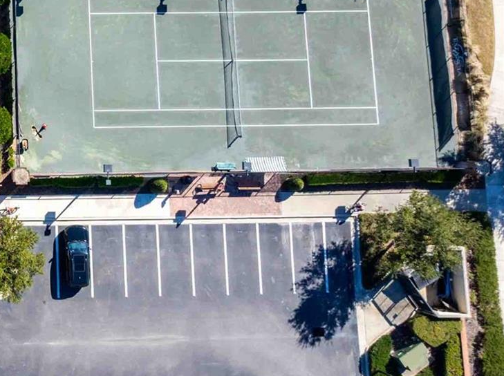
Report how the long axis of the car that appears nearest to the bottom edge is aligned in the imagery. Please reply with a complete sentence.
The car that appears nearest to the bottom edge runs from top to bottom in the image.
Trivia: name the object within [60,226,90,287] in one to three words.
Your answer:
car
